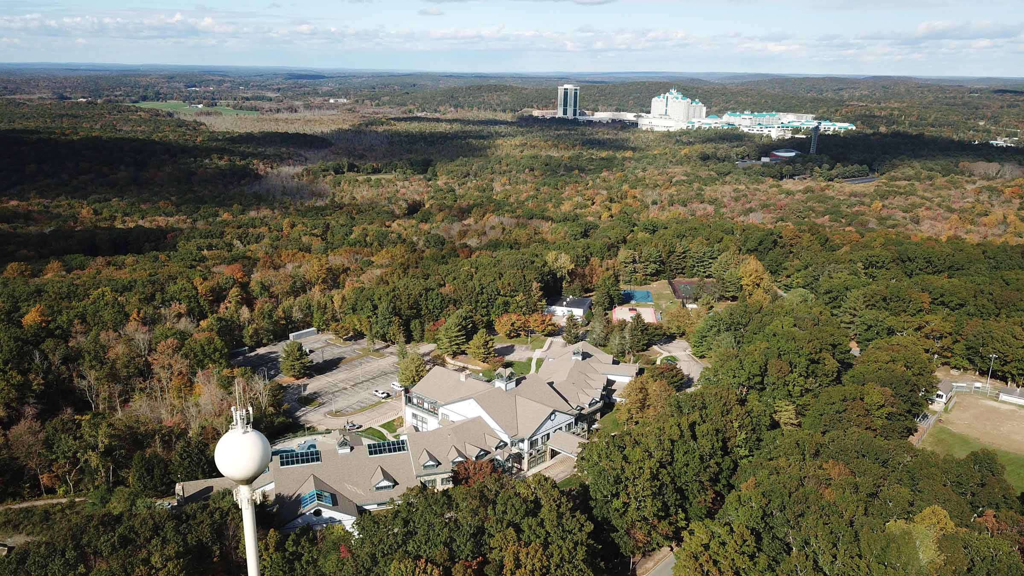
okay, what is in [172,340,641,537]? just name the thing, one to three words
building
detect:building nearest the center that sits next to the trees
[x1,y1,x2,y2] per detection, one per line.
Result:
[547,295,596,319]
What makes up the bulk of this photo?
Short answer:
trees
